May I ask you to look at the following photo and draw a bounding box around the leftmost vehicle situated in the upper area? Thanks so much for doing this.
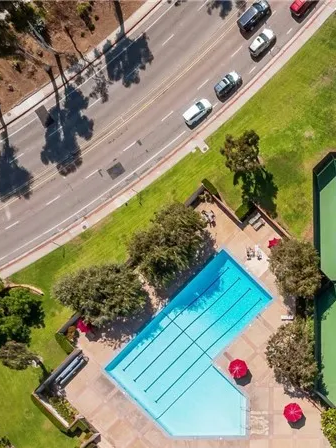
[181,99,212,127]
